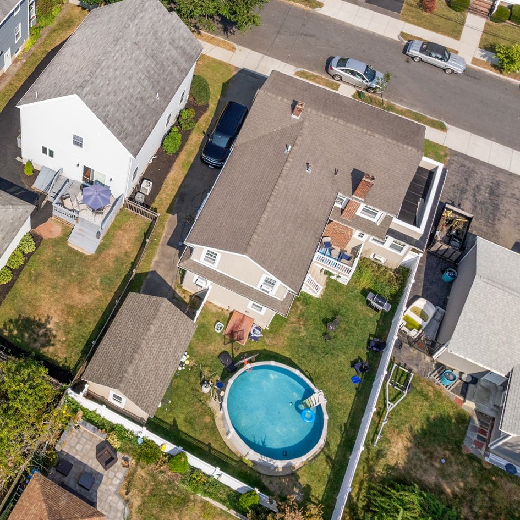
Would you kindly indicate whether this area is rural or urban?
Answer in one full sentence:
The area shown here is urban.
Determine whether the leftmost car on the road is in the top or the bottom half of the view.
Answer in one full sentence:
The top half of the photo is where the leftmost car on the road is.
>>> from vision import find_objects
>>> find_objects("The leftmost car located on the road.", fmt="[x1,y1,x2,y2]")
[326,55,388,94]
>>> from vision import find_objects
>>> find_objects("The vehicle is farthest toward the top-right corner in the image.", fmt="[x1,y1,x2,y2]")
[403,39,467,76]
